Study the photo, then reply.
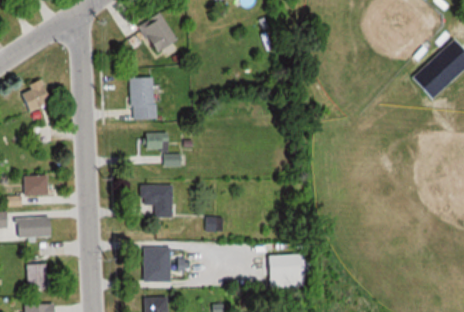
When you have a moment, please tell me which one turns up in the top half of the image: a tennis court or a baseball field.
baseball field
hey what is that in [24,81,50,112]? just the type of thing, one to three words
house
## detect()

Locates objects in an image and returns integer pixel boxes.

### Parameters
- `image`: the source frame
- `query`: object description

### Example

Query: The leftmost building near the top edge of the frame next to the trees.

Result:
[139,15,176,52]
